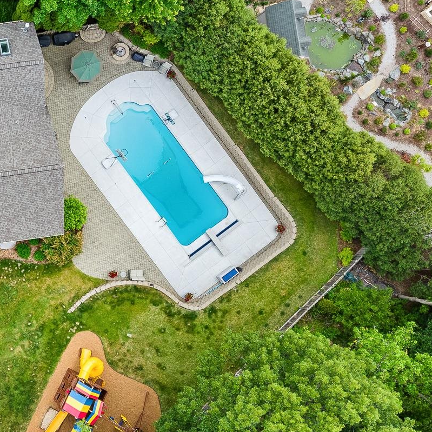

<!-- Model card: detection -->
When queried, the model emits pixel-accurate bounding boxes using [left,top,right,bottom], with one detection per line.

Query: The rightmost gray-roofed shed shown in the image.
[263,0,313,56]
